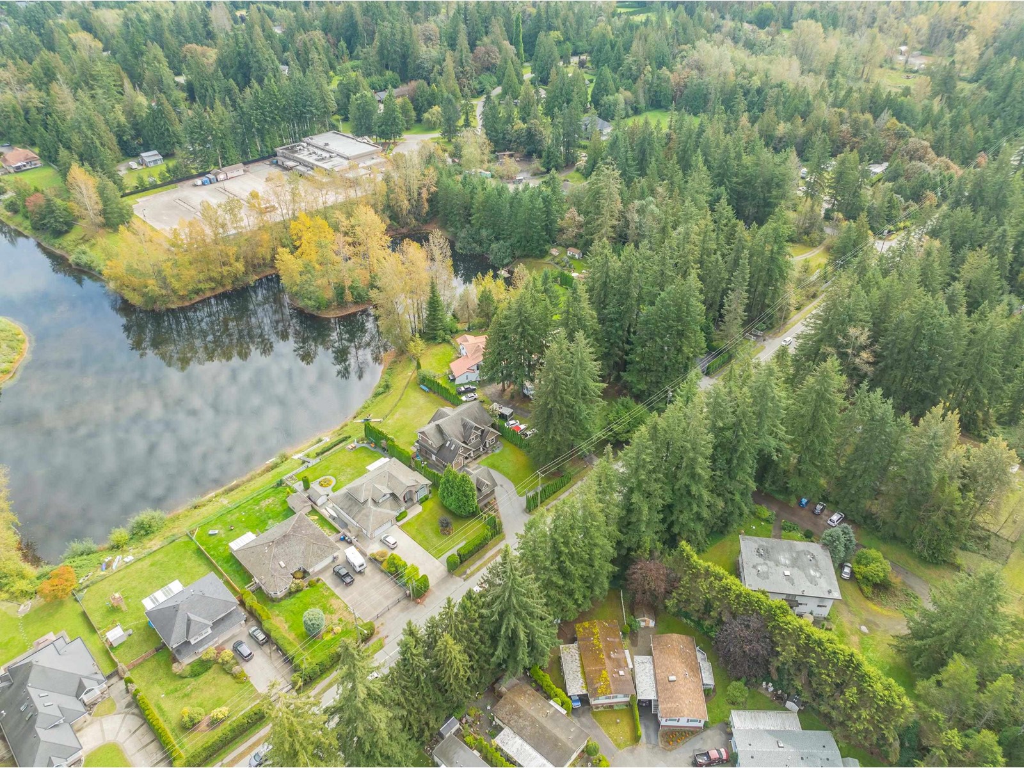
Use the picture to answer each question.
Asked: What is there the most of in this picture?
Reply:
trees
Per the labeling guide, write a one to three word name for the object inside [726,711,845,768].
house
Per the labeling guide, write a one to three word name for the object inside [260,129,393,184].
building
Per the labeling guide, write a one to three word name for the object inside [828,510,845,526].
car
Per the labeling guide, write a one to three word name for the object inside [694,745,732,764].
vehicle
